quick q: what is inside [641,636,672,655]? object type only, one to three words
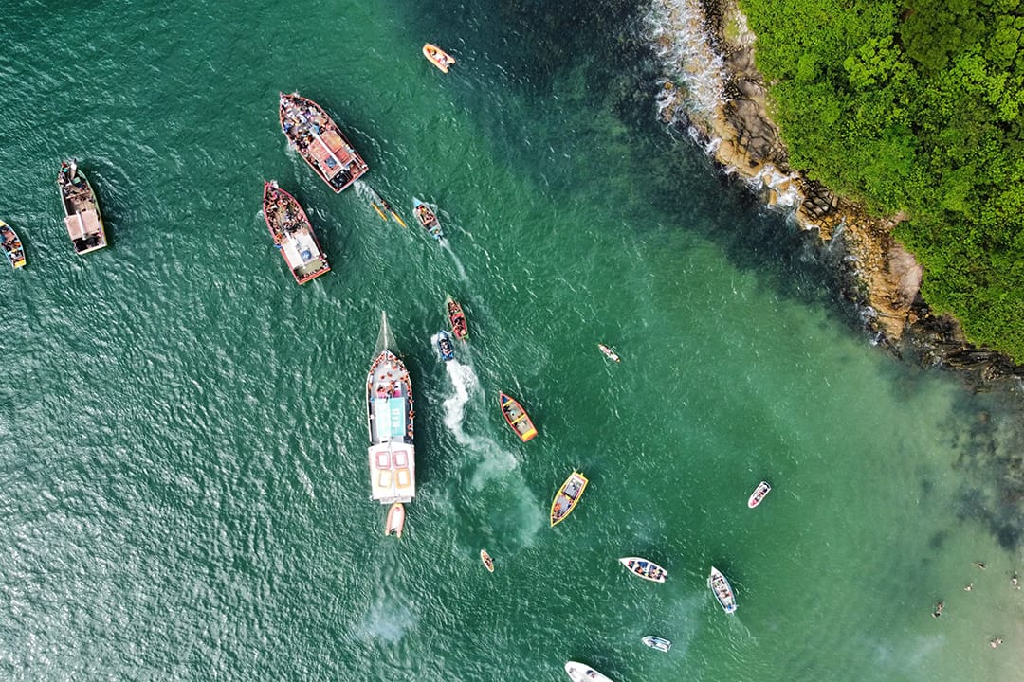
boat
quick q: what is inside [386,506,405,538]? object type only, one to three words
boat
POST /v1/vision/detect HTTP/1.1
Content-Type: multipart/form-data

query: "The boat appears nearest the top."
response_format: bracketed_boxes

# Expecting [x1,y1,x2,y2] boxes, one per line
[423,42,456,76]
